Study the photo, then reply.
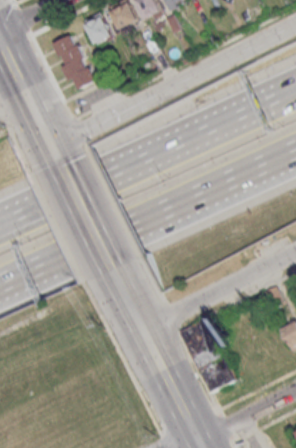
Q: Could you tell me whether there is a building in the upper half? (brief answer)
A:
Yes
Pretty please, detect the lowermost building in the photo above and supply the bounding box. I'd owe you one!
[200,360,238,390]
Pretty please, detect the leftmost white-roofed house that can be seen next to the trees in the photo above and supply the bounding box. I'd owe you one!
[86,18,112,44]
